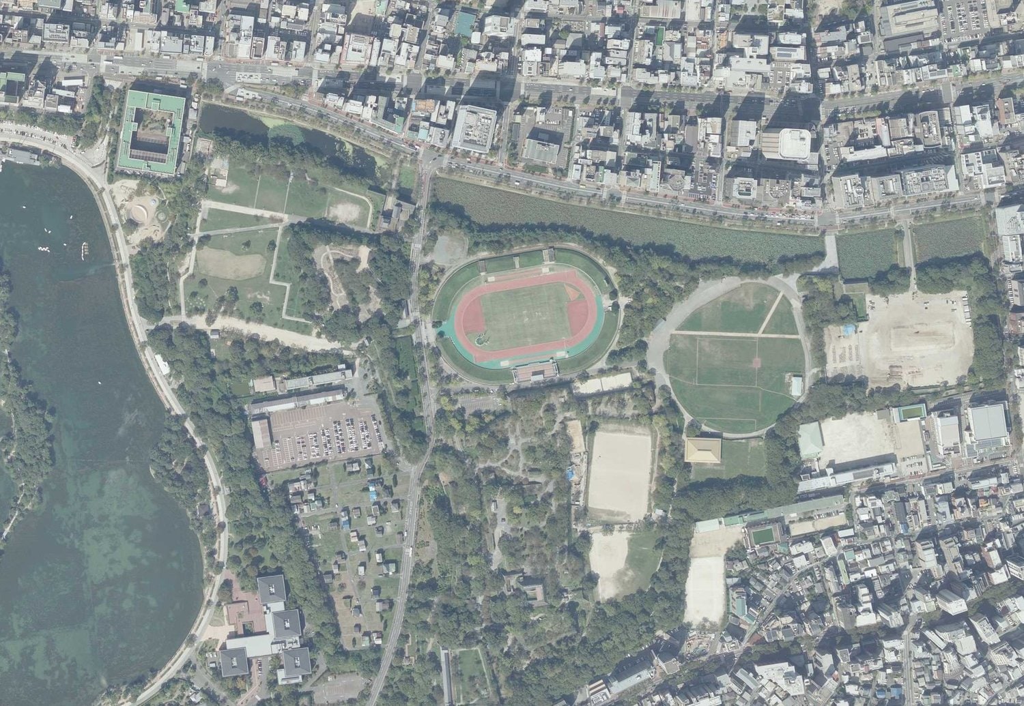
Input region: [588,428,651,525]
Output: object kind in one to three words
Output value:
sports field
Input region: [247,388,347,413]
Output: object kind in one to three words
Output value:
shed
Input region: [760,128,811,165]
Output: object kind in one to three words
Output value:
building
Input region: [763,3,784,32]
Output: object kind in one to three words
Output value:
building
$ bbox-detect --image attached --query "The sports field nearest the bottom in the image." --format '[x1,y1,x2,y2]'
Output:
[590,525,663,600]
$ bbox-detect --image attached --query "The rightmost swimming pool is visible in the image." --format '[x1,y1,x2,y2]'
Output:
[892,403,926,423]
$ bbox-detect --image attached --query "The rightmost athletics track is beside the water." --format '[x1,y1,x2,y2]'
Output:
[430,248,622,384]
